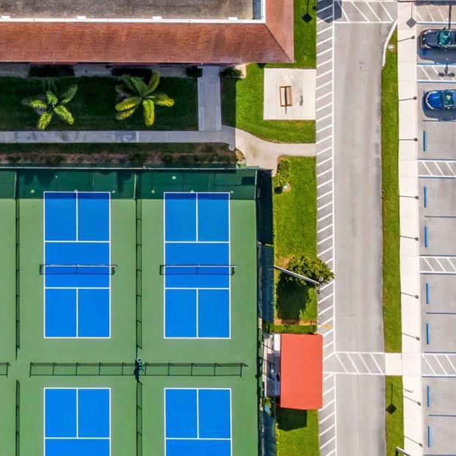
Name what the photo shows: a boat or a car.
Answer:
car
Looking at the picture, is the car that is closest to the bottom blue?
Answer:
Yes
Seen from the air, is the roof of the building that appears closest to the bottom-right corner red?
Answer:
Yes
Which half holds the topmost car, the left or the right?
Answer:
right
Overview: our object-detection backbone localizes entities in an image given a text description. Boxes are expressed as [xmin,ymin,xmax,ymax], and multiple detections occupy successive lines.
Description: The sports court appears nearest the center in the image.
[164,192,231,338]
